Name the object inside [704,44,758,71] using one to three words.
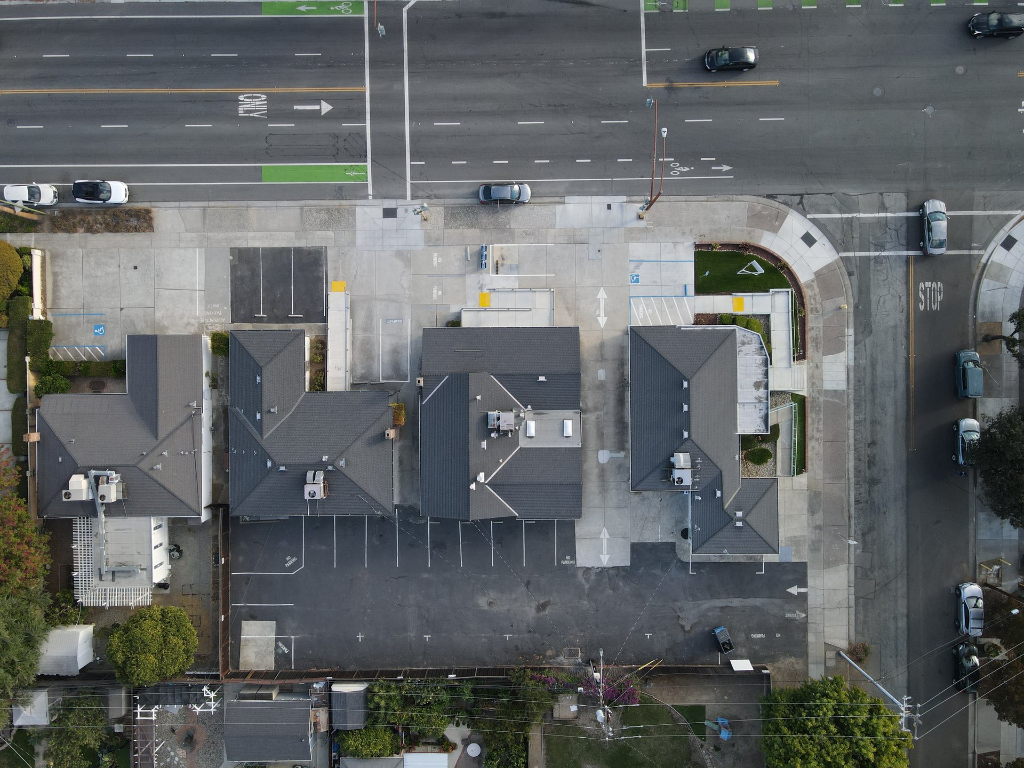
car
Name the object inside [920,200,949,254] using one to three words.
car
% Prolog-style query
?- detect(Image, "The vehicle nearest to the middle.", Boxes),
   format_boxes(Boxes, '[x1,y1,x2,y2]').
[479,180,531,205]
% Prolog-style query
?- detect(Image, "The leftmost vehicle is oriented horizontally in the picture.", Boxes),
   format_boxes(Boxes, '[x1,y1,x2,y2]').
[1,182,58,206]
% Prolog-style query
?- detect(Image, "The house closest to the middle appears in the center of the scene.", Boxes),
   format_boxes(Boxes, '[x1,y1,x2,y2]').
[416,326,583,520]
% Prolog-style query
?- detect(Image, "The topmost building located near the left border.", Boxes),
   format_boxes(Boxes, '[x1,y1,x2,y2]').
[23,334,211,518]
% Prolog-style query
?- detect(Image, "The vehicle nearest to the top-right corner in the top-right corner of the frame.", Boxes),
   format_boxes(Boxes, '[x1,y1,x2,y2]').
[968,10,1024,40]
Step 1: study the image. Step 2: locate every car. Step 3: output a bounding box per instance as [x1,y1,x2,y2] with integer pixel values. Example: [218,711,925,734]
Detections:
[1,182,58,206]
[951,642,980,694]
[479,180,531,205]
[704,44,758,71]
[968,10,1024,40]
[920,200,949,254]
[70,178,128,204]
[952,418,982,467]
[955,349,985,398]
[954,583,984,637]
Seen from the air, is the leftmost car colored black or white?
white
